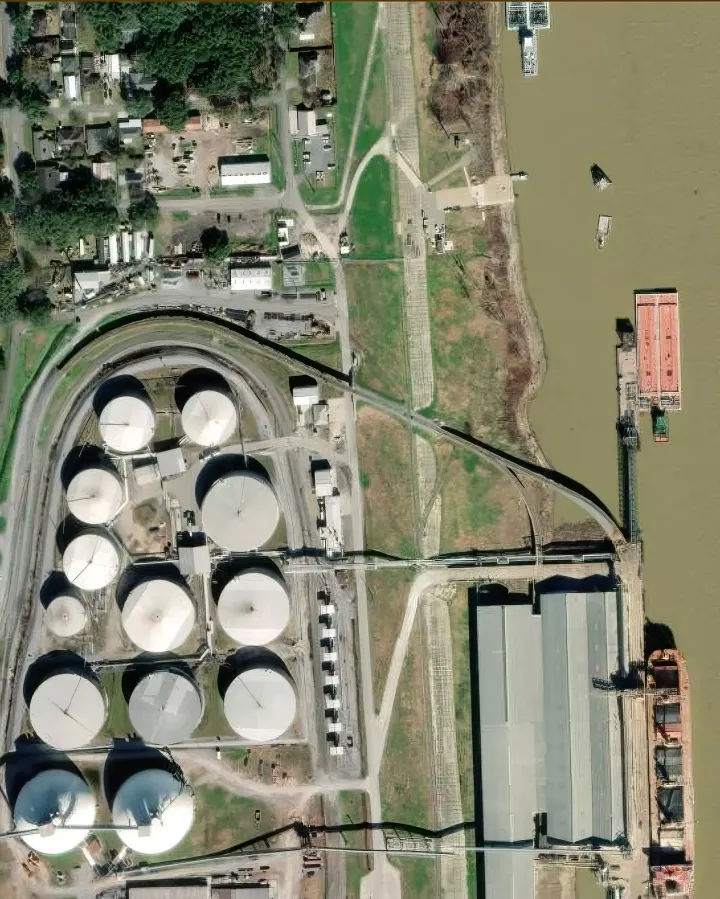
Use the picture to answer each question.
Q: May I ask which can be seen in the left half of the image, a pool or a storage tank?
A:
storage tank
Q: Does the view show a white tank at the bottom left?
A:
Yes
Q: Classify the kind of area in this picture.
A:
port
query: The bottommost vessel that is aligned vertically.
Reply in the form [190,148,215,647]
[649,647,694,899]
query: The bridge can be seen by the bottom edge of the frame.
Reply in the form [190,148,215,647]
[535,851,612,865]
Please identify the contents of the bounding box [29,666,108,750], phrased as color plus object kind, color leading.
white storage tank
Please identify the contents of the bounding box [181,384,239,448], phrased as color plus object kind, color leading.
white storage tank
